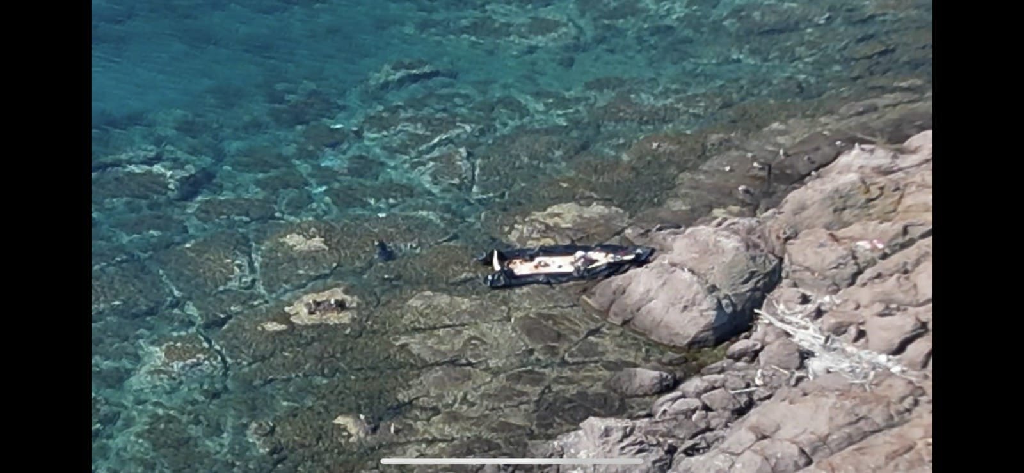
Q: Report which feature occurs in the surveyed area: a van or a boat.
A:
boat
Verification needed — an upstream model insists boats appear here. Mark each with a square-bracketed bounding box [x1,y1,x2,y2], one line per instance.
[473,240,660,295]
